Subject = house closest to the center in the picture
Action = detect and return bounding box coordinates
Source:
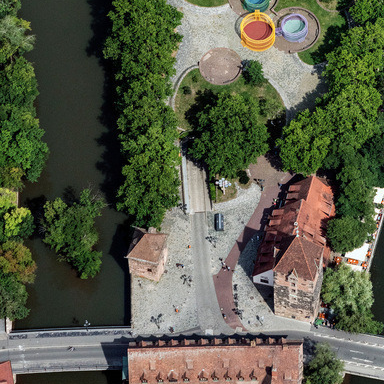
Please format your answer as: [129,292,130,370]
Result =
[126,228,169,279]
